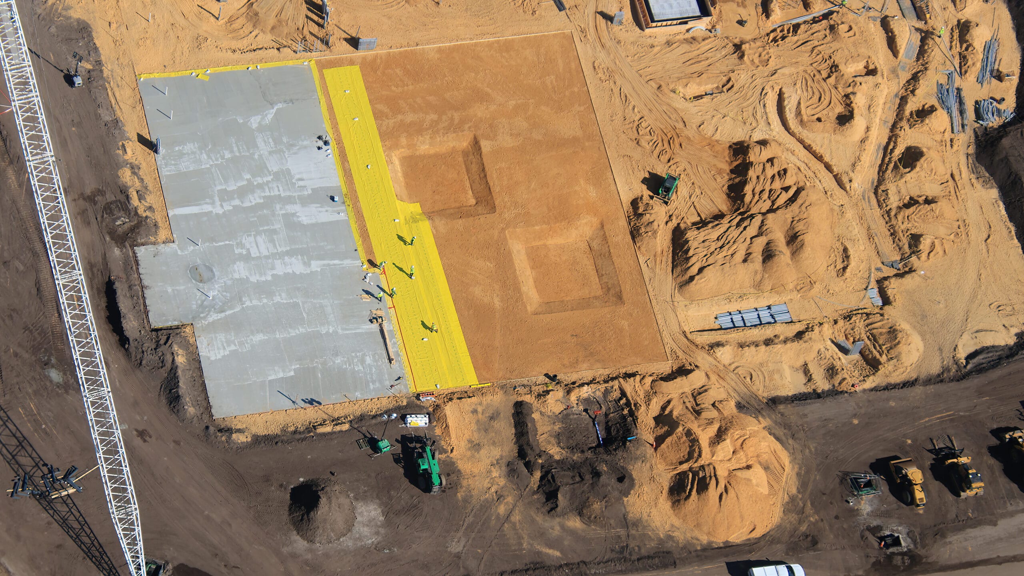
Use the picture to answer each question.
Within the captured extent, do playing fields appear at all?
No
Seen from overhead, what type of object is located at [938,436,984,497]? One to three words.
work vehicle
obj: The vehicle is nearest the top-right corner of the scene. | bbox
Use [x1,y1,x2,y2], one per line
[649,163,682,209]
